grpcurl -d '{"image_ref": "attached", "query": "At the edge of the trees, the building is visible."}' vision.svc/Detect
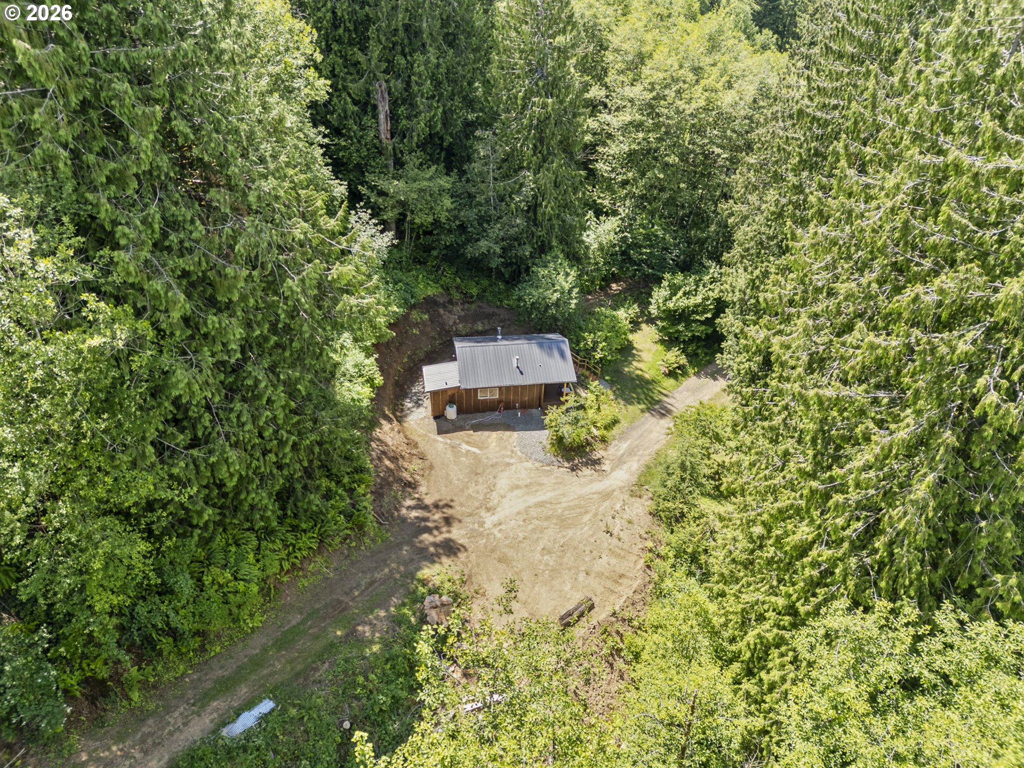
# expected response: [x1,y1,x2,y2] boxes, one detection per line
[423,326,575,419]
